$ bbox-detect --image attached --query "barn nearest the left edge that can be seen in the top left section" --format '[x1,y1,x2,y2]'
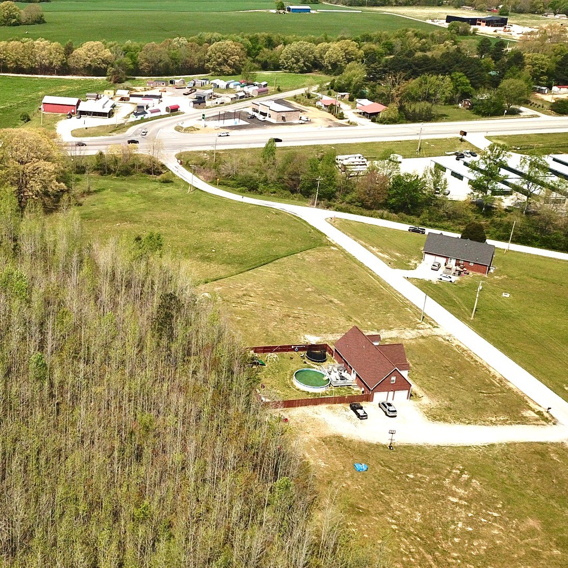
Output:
[42,96,79,114]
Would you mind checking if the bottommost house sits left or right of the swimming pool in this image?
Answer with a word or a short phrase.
on the right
